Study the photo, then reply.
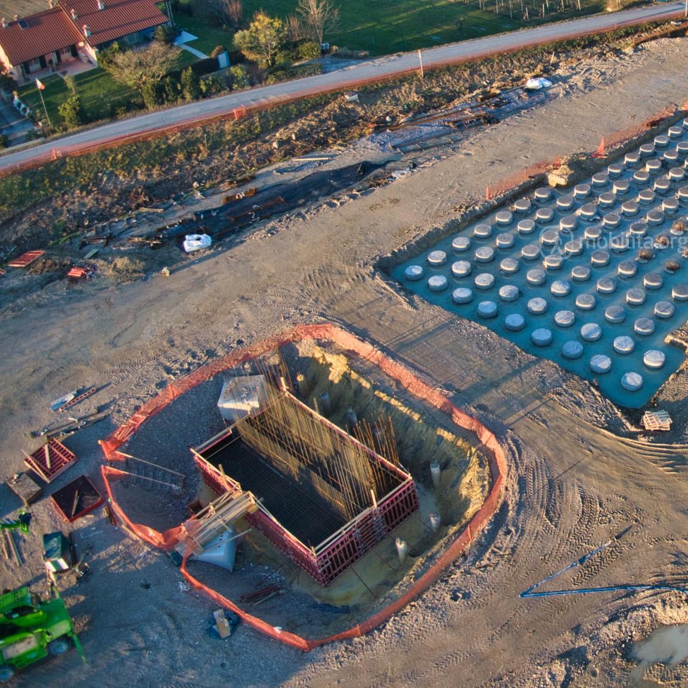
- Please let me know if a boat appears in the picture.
No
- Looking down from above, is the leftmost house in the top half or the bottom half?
top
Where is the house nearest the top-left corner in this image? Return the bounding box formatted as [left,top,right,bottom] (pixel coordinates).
[0,0,178,99]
